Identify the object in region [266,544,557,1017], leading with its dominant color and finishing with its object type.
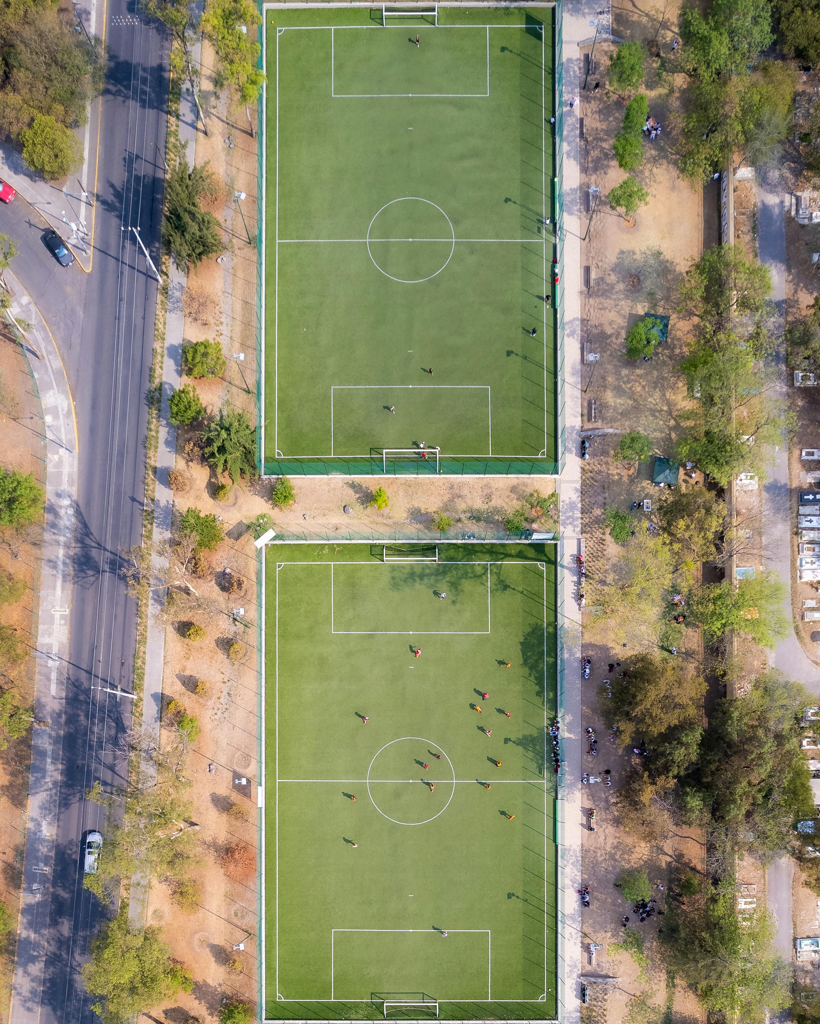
green soccer field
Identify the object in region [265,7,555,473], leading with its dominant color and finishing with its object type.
green soccer field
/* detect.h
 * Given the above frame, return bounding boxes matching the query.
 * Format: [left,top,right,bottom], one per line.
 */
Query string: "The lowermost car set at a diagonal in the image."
[41,225,75,267]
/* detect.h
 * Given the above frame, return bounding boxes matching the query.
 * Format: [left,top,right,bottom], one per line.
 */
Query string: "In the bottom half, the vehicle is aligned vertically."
[83,831,104,875]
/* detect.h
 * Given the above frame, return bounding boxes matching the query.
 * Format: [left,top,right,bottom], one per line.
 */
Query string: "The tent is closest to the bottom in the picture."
[648,457,680,487]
